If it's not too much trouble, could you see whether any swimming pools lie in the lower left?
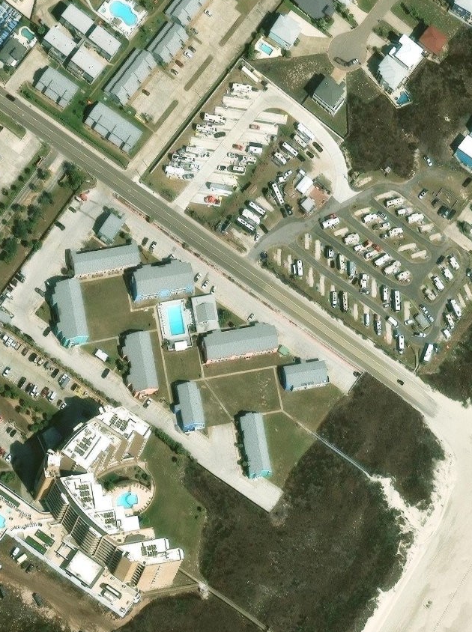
Yes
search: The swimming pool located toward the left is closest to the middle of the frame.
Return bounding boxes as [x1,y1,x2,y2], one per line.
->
[157,300,192,348]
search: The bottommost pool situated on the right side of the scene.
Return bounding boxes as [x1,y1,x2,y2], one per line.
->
[391,87,413,108]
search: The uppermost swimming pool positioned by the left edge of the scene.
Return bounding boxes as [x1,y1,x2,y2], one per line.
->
[15,26,37,48]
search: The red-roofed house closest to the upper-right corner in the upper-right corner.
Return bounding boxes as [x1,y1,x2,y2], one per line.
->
[418,23,449,59]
